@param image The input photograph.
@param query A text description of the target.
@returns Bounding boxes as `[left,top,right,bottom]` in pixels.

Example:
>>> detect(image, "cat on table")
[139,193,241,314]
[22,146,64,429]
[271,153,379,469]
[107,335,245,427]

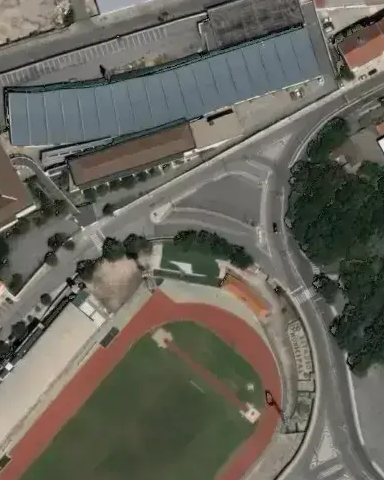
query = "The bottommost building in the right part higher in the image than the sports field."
[223,275,268,317]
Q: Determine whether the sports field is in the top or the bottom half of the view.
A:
bottom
